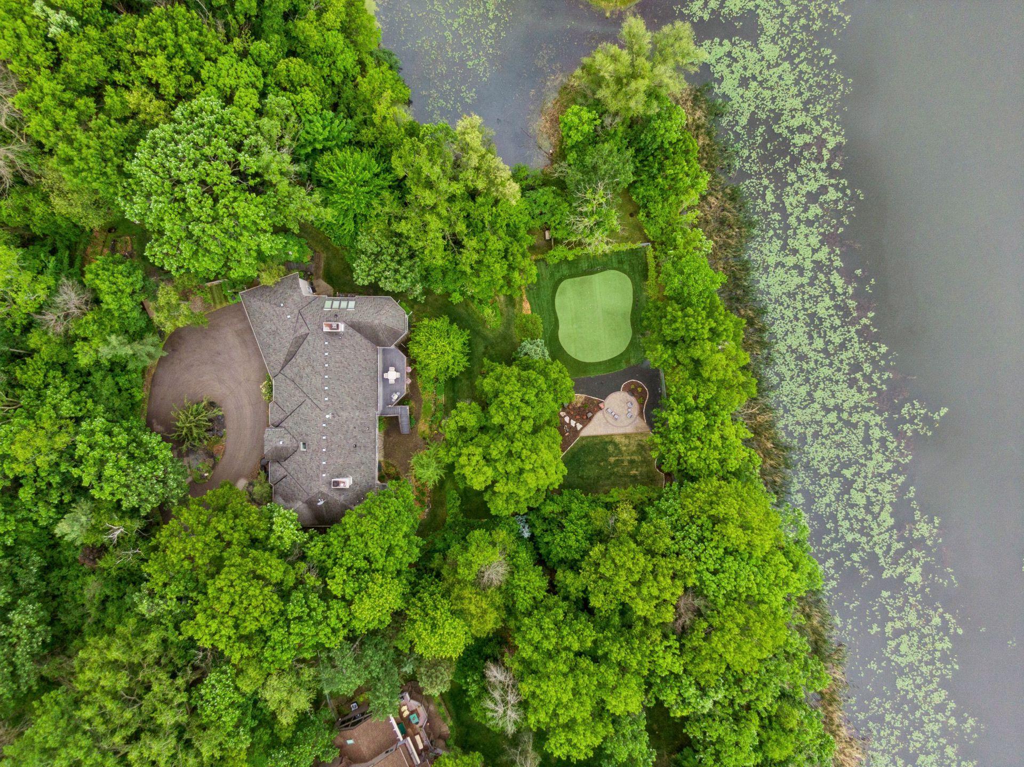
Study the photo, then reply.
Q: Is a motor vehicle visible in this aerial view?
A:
No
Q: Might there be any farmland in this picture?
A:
No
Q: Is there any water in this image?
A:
Yes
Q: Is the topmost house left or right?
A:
left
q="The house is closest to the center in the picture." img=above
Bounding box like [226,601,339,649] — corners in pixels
[239,272,409,527]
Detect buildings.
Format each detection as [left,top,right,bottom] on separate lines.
[239,272,409,527]
[324,702,430,767]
